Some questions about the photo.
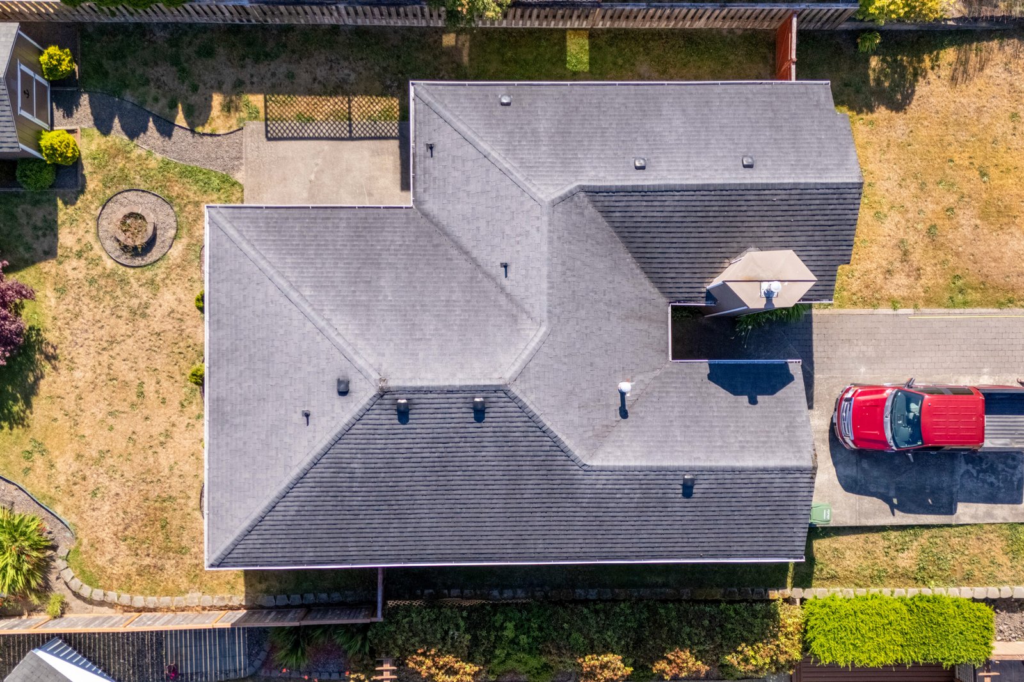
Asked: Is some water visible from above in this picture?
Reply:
No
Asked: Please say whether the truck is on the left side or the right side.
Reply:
right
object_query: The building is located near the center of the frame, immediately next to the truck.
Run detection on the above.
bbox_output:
[205,79,862,570]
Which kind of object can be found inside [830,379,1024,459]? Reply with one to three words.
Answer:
truck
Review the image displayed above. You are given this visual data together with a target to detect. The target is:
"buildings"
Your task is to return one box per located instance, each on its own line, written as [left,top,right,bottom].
[2,638,115,682]
[0,22,51,158]
[205,79,862,570]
